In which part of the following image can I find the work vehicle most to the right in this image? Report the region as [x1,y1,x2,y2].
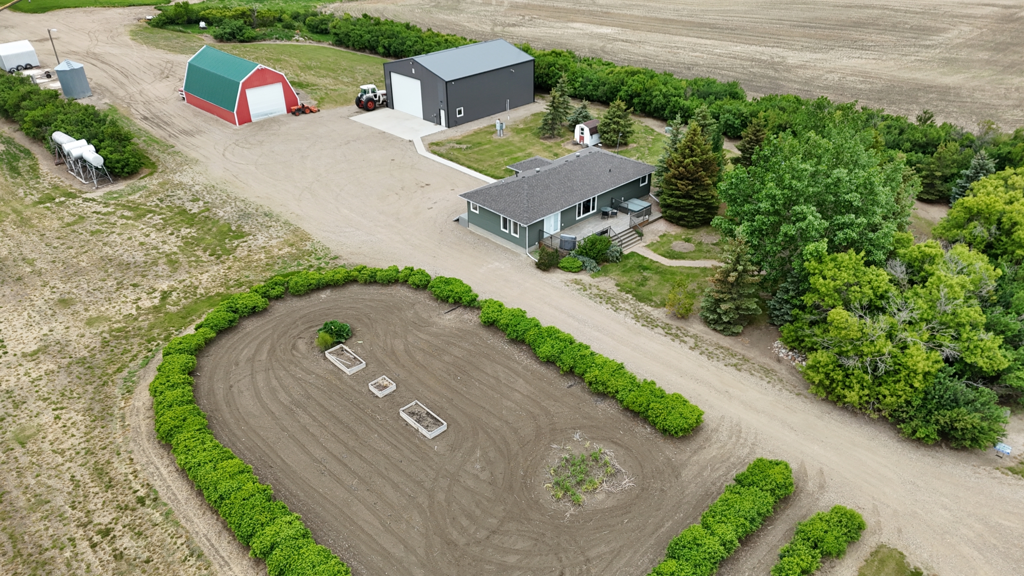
[355,82,387,111]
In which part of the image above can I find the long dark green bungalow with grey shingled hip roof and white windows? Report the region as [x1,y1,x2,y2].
[457,141,657,259]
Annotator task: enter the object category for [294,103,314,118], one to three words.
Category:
work vehicle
